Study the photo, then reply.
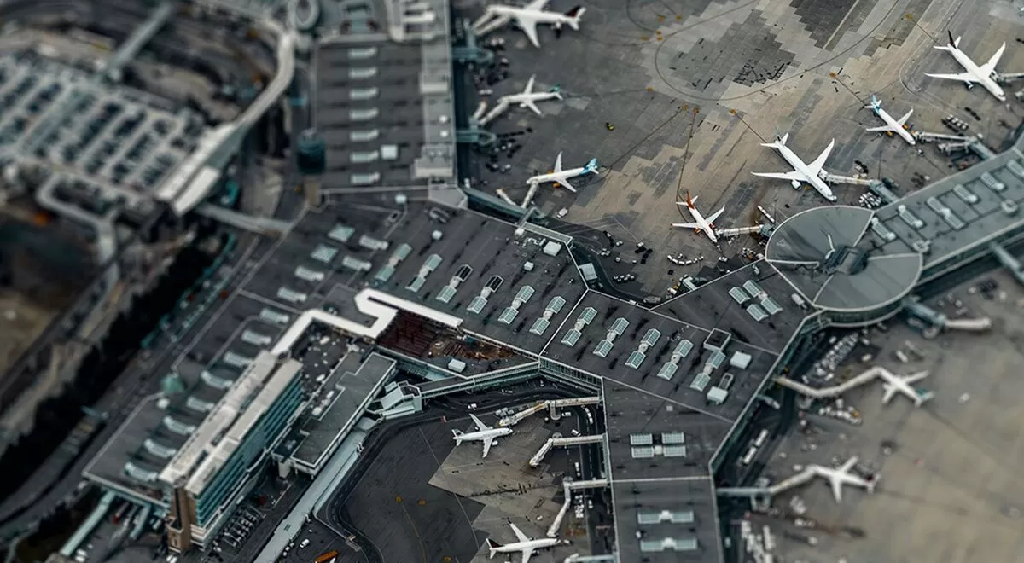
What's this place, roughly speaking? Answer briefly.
airport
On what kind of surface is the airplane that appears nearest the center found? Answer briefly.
apron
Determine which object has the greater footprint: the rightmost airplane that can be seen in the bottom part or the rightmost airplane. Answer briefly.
the rightmost airplane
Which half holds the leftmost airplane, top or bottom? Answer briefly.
bottom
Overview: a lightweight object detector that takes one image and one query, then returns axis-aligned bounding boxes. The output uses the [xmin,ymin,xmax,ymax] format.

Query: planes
[864,100,915,145]
[926,36,1006,102]
[449,411,513,457]
[540,151,599,194]
[876,370,929,410]
[754,132,837,201]
[497,74,563,116]
[670,201,724,244]
[490,0,582,42]
[815,457,876,500]
[486,519,561,563]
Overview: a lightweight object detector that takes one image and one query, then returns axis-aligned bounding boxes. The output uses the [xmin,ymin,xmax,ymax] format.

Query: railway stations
[159,107,254,226]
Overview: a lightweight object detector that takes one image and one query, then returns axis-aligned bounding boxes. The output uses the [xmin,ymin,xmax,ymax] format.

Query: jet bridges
[466,9,501,54]
[544,478,609,541]
[991,71,1024,87]
[470,98,513,138]
[713,224,771,244]
[524,433,605,471]
[912,131,996,156]
[759,465,820,499]
[560,553,616,563]
[494,393,602,431]
[518,177,541,211]
[771,366,886,404]
[820,173,878,189]
[933,140,976,159]
[940,319,997,337]
[468,97,490,125]
[467,12,517,42]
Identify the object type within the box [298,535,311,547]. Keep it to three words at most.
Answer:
vehicle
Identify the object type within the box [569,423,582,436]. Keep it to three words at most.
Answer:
vehicle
